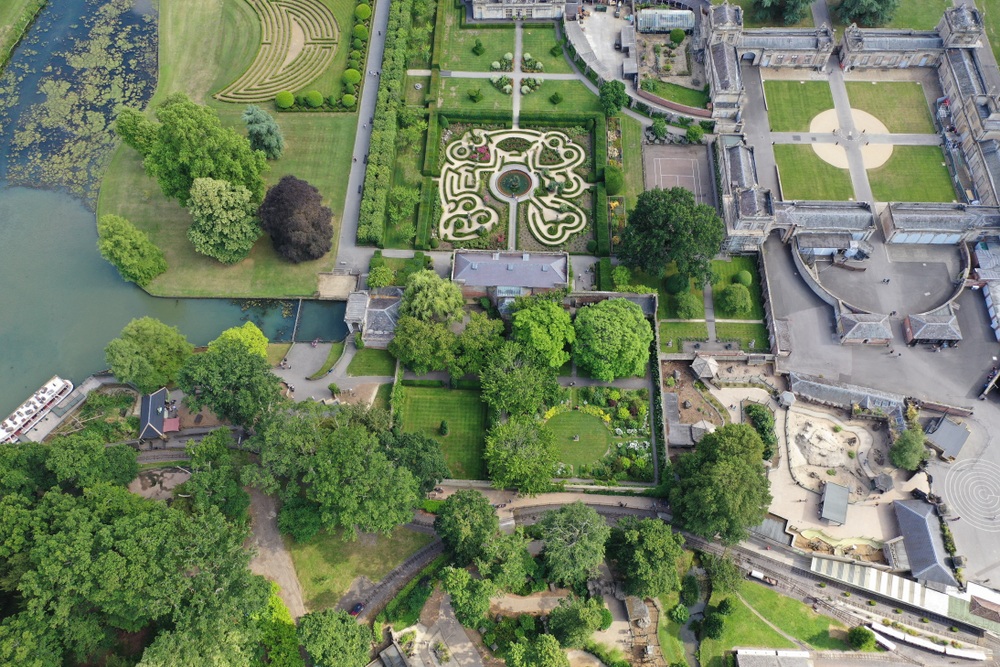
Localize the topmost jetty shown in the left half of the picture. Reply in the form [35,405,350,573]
[26,377,102,440]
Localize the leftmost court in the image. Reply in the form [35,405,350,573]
[644,145,718,213]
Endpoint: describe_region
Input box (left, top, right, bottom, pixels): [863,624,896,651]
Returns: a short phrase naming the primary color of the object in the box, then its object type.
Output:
white rail car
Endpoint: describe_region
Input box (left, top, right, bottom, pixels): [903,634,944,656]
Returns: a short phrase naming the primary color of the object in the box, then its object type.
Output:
white rail car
